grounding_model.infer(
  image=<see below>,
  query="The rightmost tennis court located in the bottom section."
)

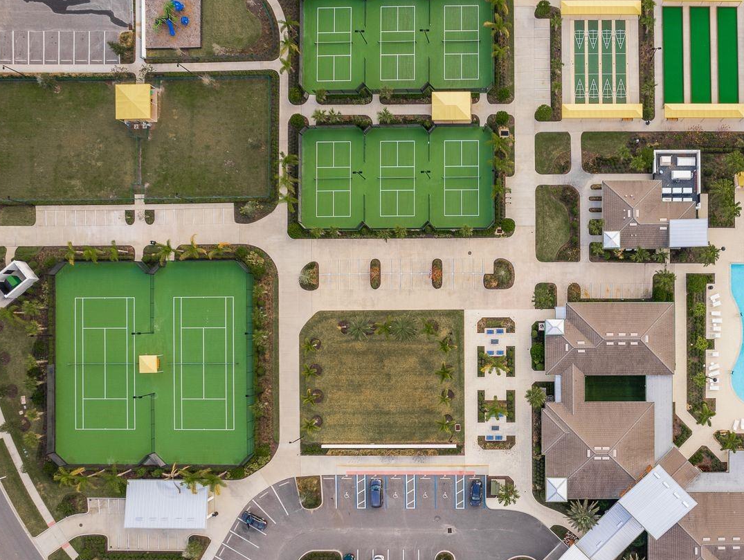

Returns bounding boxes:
[150,261,253,465]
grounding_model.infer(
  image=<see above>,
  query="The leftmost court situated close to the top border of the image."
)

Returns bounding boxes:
[303,0,366,90]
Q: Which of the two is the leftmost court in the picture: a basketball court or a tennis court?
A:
tennis court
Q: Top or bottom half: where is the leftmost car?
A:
bottom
